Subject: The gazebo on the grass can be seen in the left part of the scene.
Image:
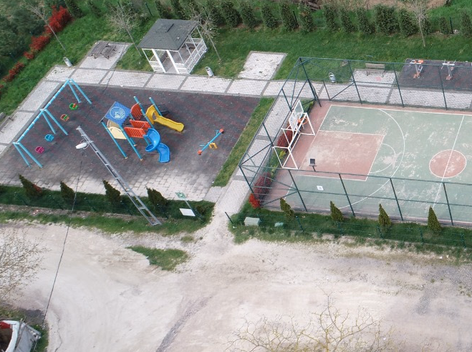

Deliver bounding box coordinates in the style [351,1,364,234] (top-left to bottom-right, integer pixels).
[135,19,206,73]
